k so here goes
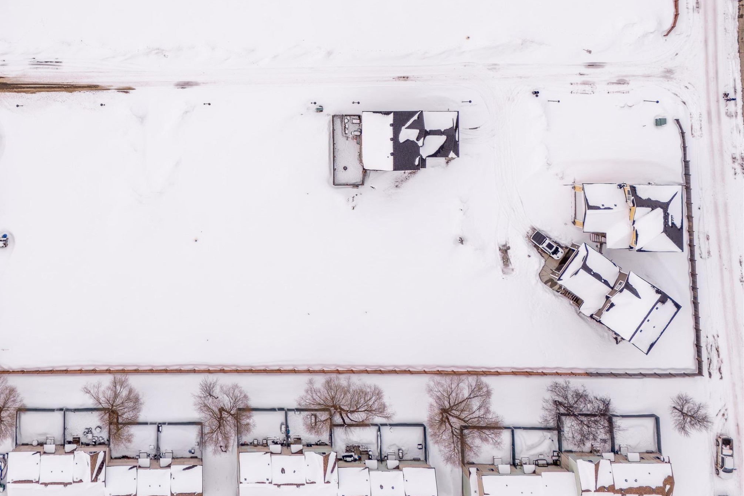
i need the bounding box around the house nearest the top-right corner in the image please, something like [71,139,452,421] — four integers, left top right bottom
[575,183,683,253]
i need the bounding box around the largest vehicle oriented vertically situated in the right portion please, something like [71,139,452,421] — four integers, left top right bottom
[716,436,734,479]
